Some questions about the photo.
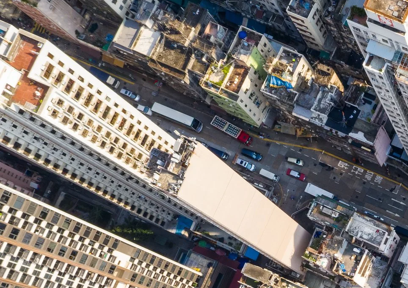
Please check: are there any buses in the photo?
Yes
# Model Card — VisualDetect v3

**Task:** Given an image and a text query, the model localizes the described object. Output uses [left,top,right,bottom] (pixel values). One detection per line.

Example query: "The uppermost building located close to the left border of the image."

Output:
[2,0,88,42]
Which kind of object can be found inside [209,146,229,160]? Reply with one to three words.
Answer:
car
